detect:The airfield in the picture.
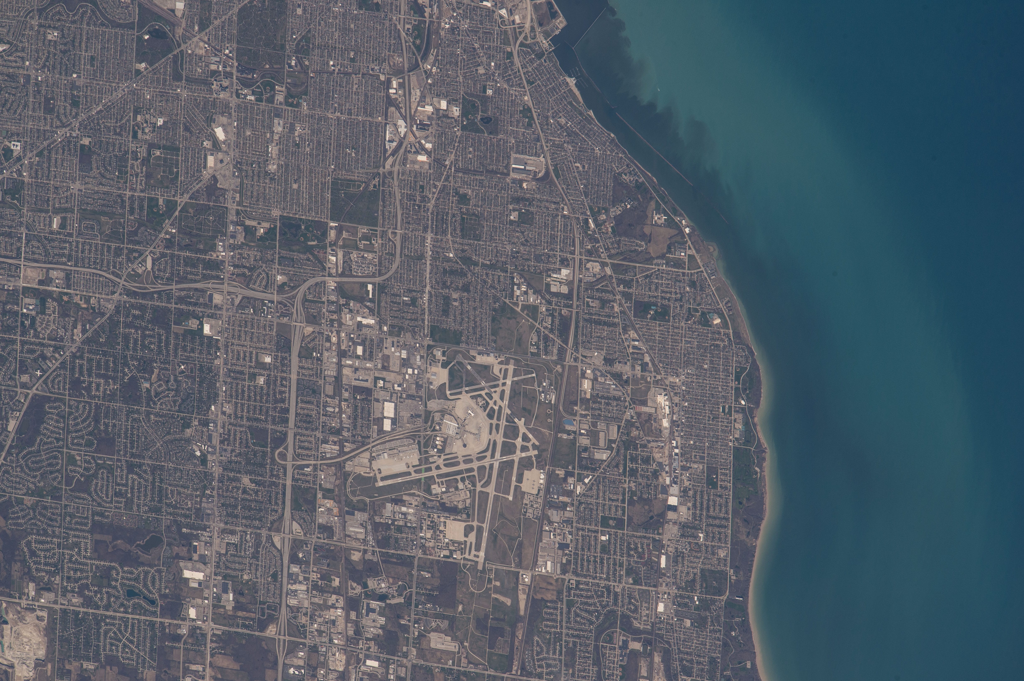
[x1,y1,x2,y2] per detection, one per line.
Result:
[348,347,564,570]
